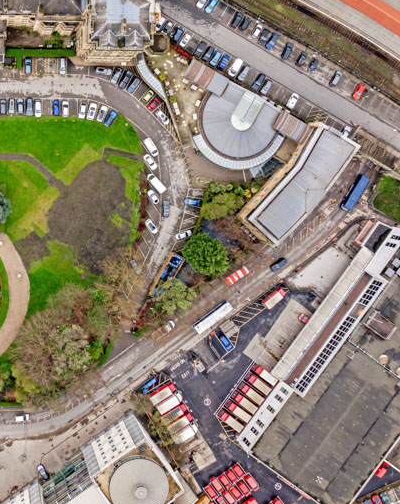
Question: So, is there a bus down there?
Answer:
Yes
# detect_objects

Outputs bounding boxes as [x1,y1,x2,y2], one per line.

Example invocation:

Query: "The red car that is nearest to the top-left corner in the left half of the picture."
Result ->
[146,97,161,111]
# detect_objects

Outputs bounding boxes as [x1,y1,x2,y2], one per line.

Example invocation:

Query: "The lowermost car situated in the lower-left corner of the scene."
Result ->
[37,462,50,479]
